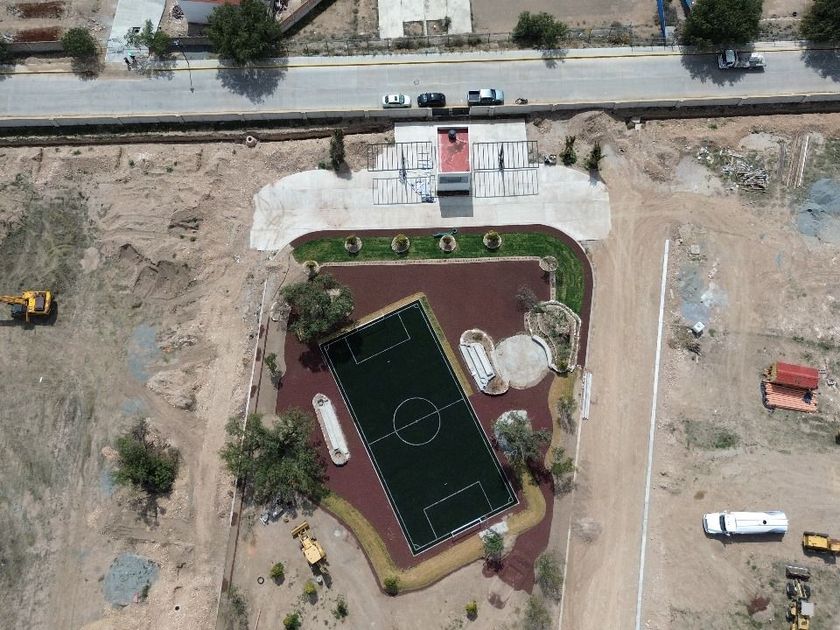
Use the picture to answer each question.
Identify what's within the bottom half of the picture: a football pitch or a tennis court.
football pitch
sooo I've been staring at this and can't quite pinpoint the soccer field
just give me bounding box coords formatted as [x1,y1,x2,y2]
[319,299,518,556]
